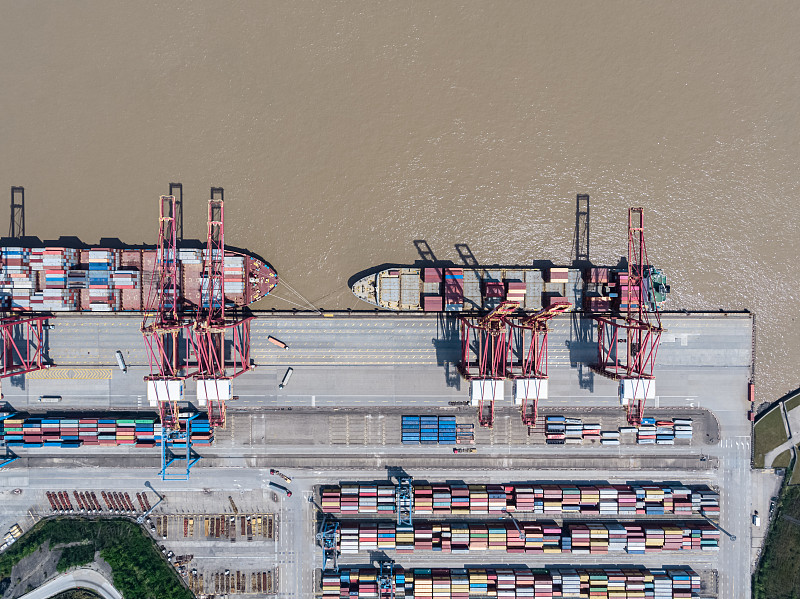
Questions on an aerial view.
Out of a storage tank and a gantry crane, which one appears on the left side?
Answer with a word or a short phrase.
gantry crane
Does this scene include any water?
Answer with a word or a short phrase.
Yes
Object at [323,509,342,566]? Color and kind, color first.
blue container crane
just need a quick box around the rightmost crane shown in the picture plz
[582,208,668,426]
